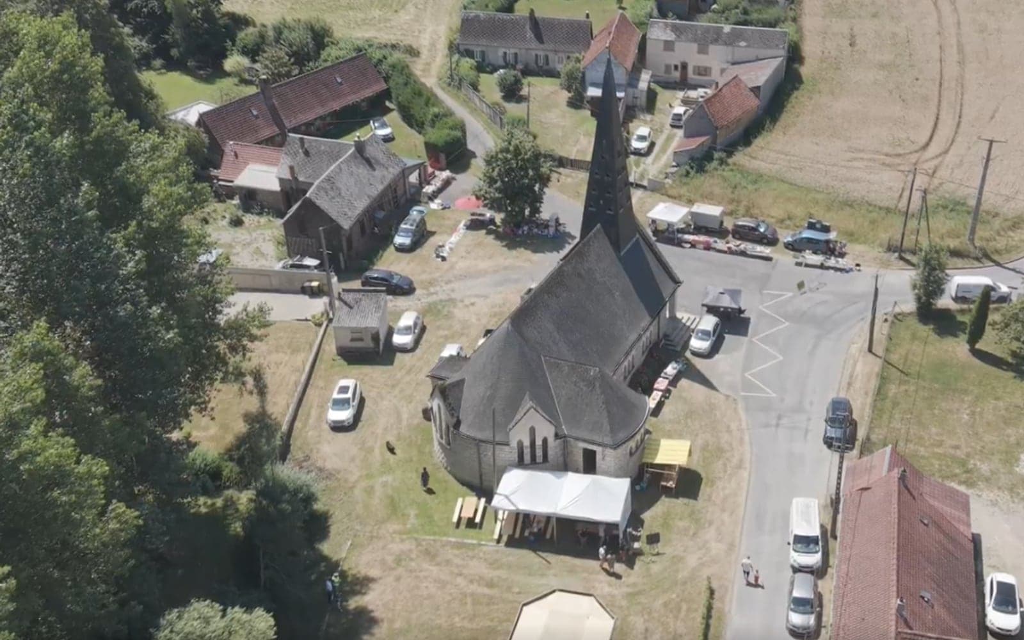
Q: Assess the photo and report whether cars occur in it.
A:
Yes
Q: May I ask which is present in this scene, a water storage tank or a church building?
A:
church building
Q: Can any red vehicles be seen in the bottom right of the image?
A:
No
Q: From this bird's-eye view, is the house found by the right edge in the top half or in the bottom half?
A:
bottom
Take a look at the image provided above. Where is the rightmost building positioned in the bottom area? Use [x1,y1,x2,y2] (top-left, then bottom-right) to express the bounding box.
[826,440,981,640]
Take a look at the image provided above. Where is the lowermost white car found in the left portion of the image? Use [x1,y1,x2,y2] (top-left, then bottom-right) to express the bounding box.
[324,377,360,425]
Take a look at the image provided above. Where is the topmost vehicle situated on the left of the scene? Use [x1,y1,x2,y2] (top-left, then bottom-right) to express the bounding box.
[371,115,394,137]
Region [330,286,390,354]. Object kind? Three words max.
shed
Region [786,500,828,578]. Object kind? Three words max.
van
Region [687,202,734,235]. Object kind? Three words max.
trailer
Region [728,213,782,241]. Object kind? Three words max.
car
